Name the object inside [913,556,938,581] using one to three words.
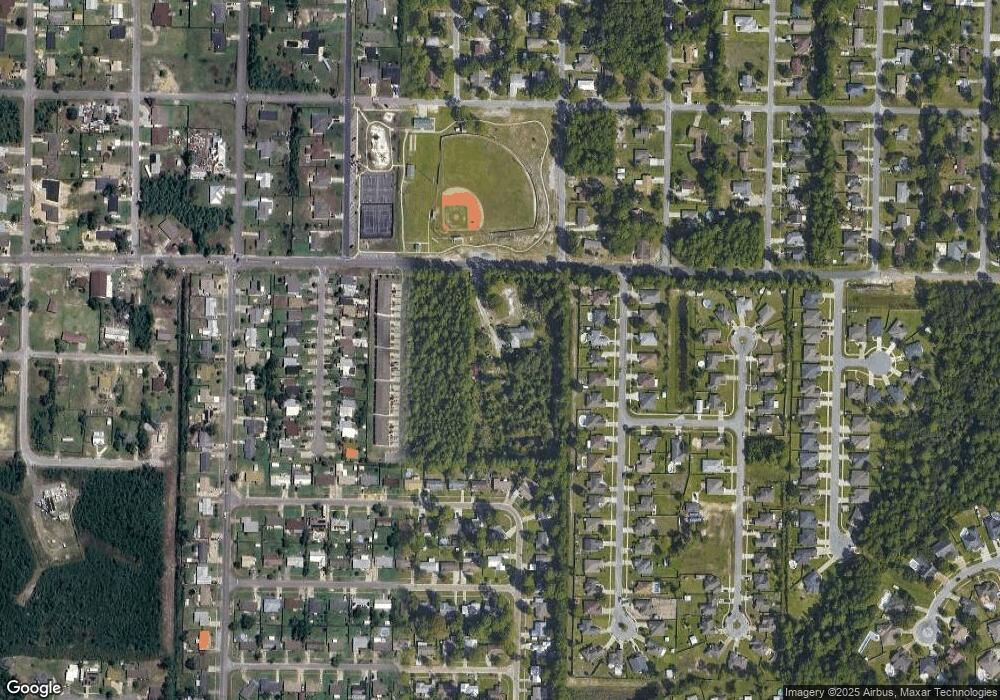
house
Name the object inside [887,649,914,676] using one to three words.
house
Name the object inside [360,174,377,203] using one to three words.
basketball court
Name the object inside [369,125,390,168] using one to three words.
playground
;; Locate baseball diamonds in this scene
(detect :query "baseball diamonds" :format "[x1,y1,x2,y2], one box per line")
[438,133,534,234]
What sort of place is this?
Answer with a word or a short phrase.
residential area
